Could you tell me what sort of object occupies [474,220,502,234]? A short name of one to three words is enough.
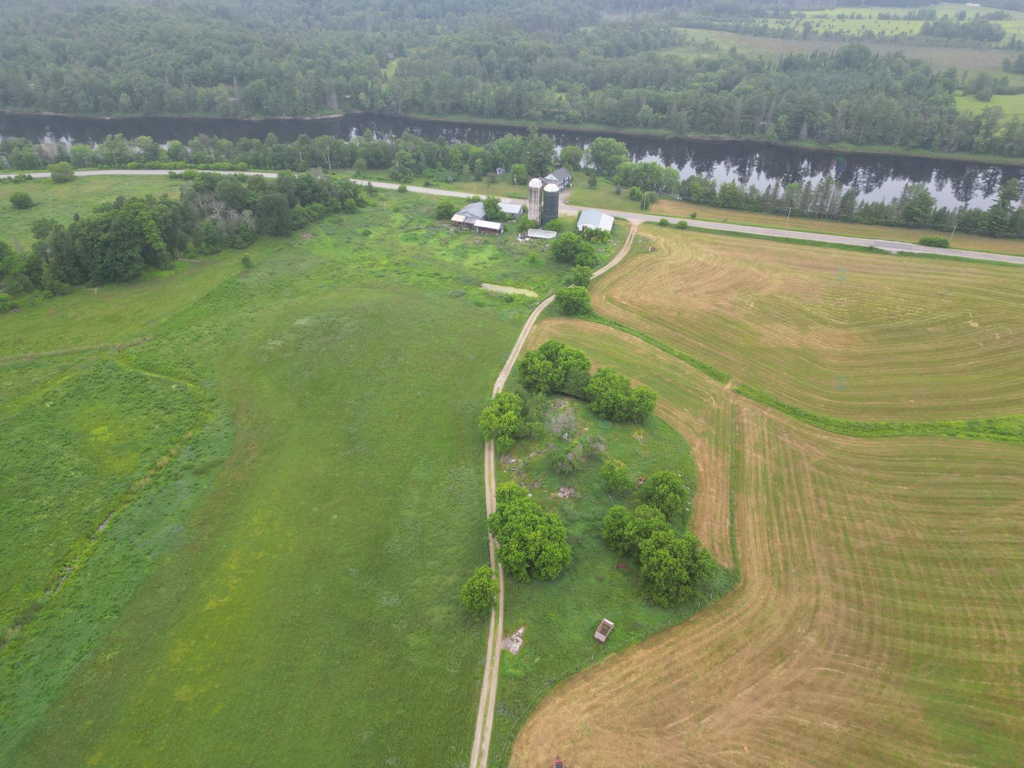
shed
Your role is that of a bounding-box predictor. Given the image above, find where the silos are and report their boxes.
[529,178,543,226]
[543,187,559,226]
